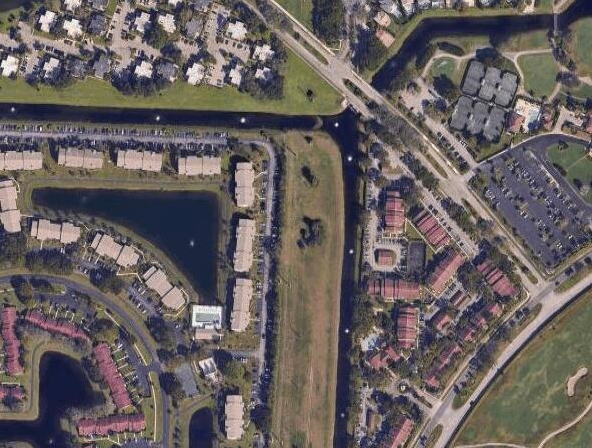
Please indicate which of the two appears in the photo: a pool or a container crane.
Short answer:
pool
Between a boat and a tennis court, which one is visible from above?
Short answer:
tennis court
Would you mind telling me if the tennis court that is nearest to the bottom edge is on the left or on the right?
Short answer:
left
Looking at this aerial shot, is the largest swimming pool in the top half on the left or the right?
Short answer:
right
